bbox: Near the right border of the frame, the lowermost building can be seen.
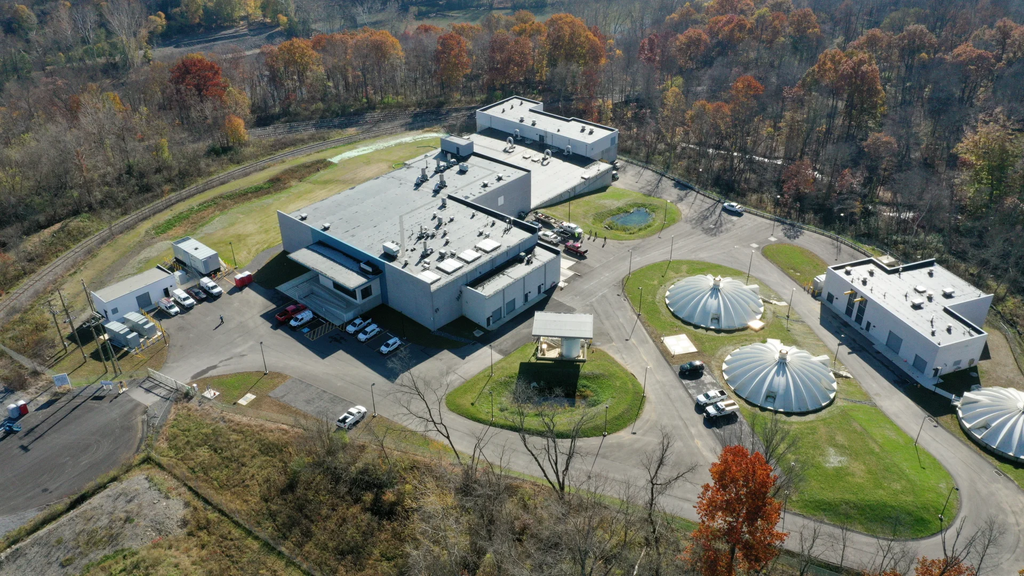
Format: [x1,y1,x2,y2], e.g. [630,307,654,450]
[822,258,995,377]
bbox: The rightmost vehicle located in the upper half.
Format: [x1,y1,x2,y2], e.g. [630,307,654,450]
[720,202,748,215]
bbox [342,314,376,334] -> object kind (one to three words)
vehicle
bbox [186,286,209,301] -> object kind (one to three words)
car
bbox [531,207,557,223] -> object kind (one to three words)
boat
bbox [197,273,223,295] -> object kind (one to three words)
truck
